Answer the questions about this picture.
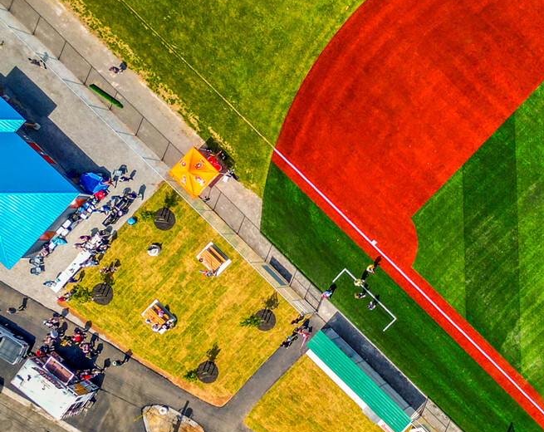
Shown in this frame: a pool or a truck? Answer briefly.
truck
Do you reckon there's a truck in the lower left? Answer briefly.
Yes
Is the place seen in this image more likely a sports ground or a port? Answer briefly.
sports ground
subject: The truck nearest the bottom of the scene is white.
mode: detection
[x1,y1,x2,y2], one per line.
[13,354,102,419]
